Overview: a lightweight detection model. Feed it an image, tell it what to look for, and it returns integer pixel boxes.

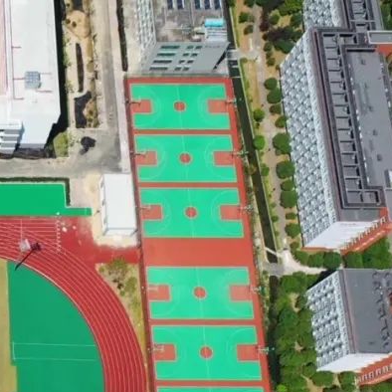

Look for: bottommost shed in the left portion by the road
[100,171,143,234]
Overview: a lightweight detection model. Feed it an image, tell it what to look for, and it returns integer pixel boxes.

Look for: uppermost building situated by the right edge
[281,0,392,251]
